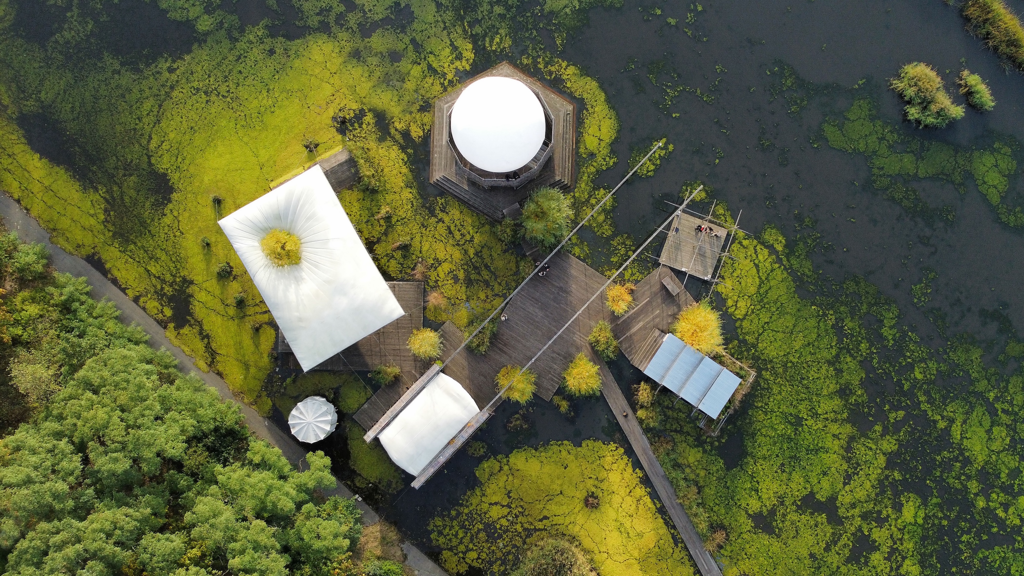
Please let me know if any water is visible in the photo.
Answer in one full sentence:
Yes, there is water in the image.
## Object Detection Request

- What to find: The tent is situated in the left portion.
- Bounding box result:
[289,394,339,442]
